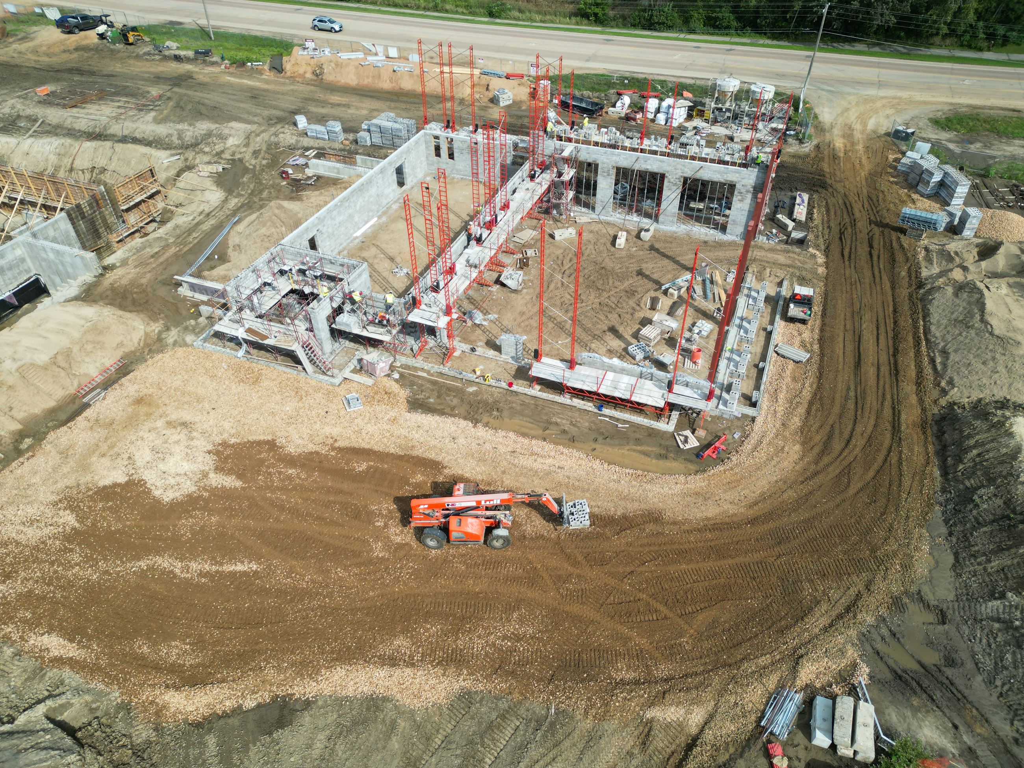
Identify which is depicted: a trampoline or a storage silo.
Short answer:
storage silo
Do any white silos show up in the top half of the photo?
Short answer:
Yes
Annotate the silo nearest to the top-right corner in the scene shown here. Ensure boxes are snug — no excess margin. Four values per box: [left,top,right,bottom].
[744,75,777,117]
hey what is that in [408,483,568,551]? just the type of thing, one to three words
work vehicle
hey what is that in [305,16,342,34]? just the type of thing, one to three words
car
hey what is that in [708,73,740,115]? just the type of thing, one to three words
silo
